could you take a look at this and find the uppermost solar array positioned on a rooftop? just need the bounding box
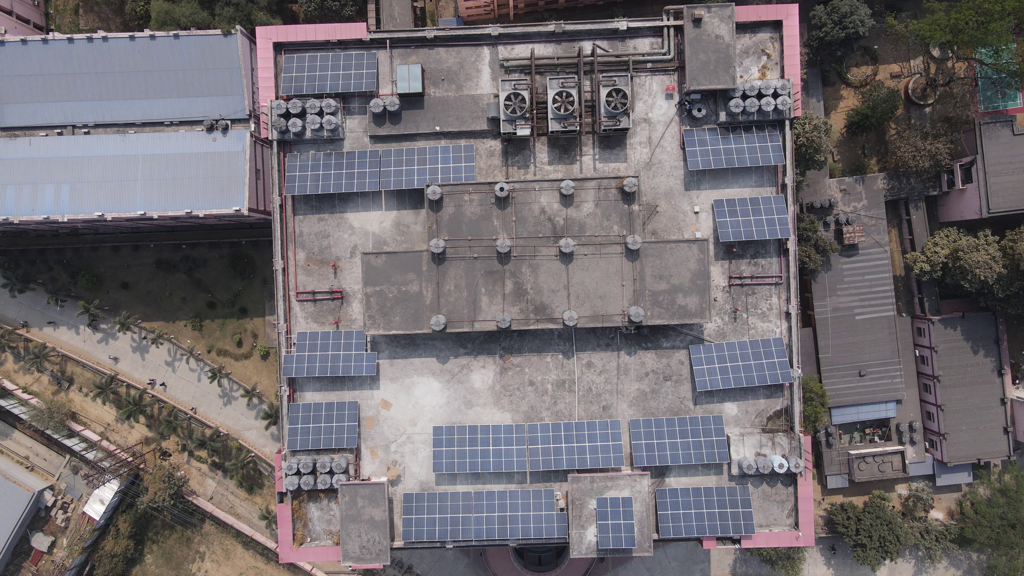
[281,52,378,96]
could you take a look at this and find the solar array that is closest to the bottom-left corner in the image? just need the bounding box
[287,401,359,450]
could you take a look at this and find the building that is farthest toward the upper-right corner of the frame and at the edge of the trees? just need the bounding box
[943,114,1024,220]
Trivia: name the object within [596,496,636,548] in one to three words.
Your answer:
solar array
